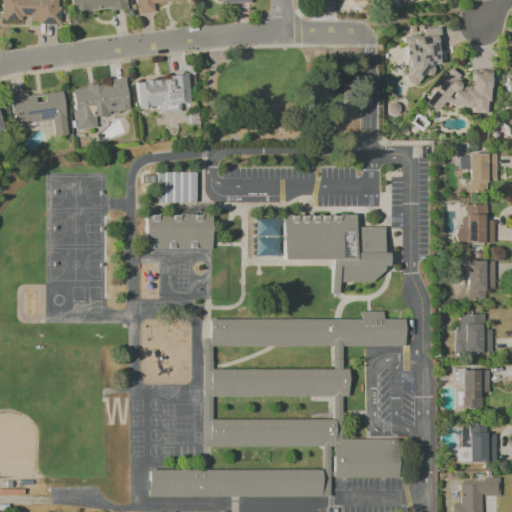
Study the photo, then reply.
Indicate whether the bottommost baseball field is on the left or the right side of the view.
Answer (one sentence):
The bottommost baseball field appears in the left half of the scene.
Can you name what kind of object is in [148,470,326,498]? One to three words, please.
building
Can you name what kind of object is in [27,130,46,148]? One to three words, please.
swimming pool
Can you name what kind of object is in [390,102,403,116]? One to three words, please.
gazebo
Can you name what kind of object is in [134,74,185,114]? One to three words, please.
house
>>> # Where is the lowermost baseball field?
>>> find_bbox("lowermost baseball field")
[0,408,42,480]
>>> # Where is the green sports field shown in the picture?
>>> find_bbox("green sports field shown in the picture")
[0,159,129,480]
